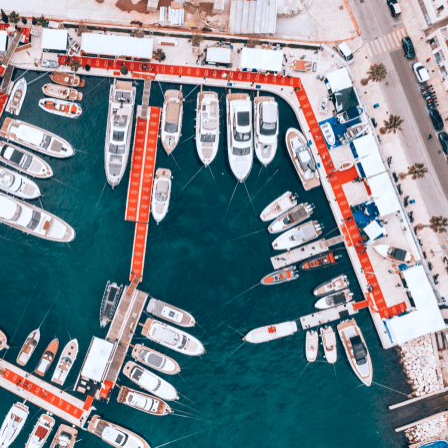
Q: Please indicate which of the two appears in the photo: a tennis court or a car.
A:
car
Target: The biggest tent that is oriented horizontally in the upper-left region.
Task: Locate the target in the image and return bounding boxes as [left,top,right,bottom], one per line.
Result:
[81,34,153,65]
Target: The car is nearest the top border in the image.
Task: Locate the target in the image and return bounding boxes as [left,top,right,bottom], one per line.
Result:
[385,0,401,20]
